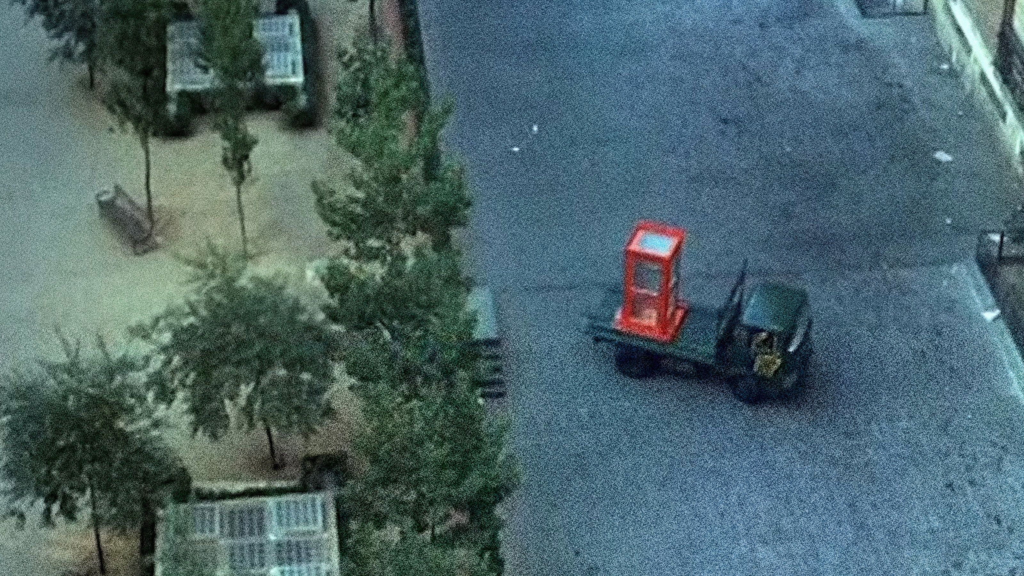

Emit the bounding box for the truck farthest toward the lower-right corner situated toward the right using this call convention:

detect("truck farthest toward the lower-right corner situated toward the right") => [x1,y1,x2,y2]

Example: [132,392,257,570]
[582,256,817,408]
